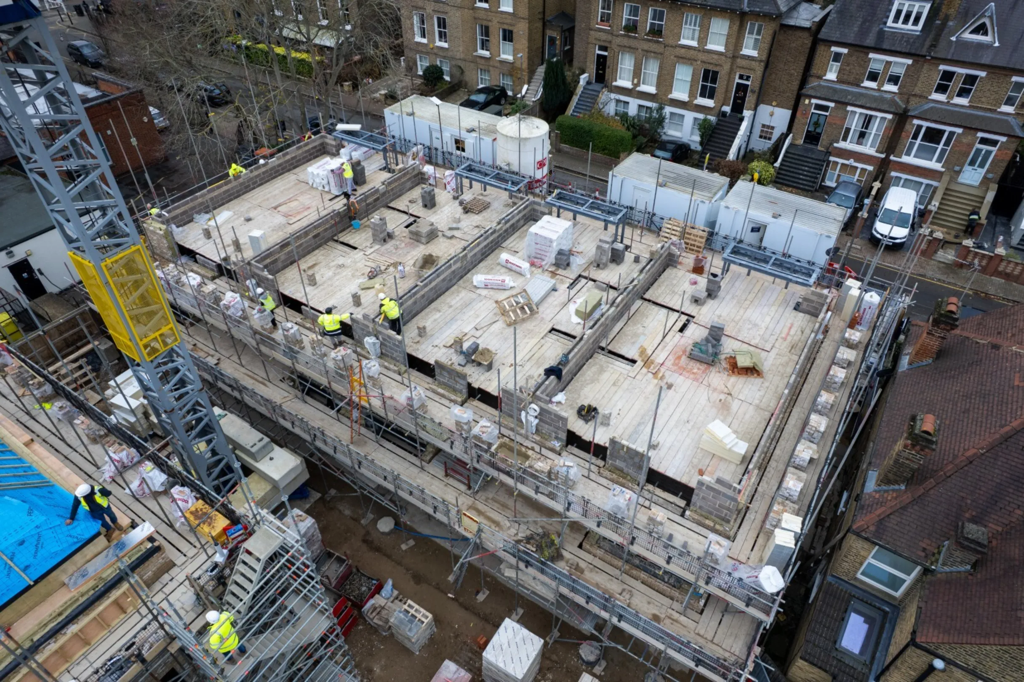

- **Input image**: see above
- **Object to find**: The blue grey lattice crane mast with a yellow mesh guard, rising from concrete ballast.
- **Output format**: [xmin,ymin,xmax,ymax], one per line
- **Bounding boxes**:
[0,0,241,497]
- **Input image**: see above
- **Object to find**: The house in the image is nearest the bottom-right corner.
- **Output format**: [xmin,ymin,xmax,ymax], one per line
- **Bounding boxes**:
[773,296,1024,682]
